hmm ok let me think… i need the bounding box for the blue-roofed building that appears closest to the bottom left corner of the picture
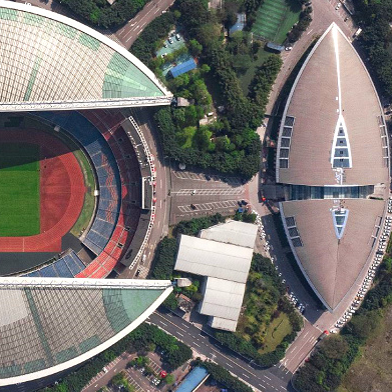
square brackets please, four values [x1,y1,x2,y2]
[171,364,209,392]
